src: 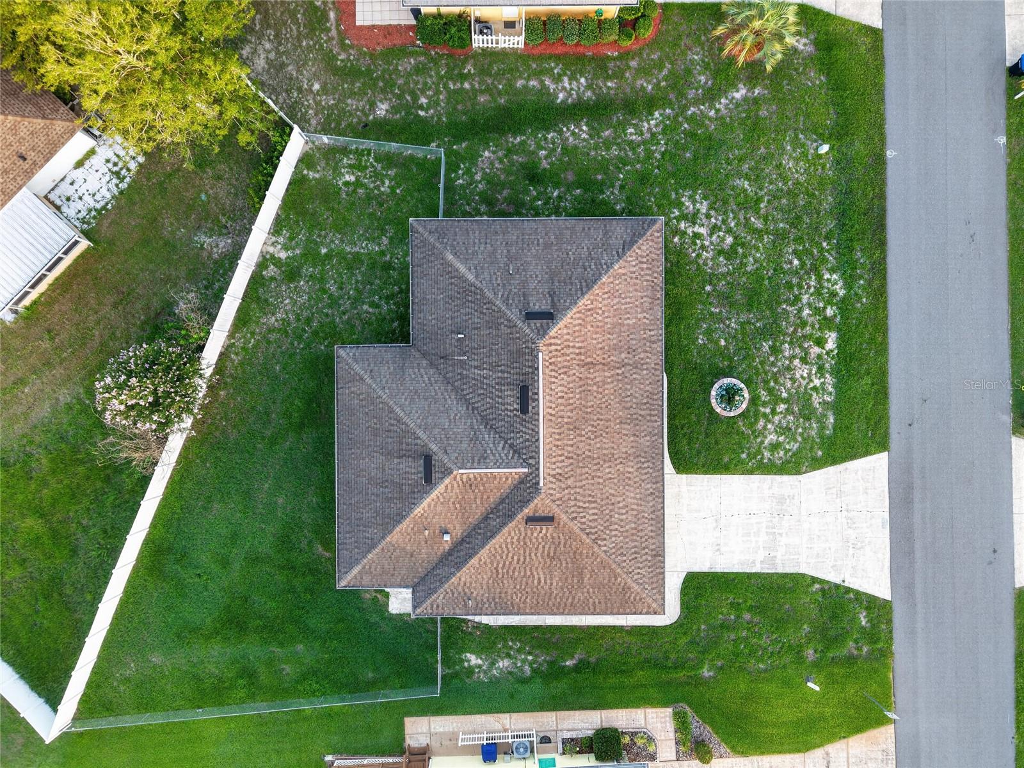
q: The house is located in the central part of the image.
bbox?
[334,215,667,619]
